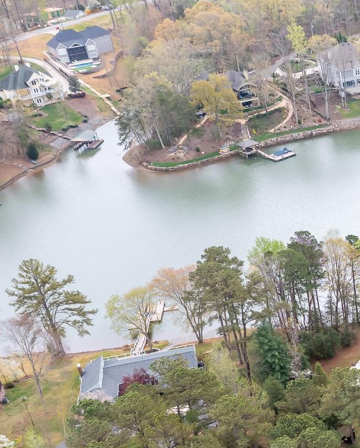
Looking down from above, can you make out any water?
Yes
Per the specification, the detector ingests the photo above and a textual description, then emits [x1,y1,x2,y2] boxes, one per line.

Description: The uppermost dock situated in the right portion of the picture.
[238,138,296,162]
